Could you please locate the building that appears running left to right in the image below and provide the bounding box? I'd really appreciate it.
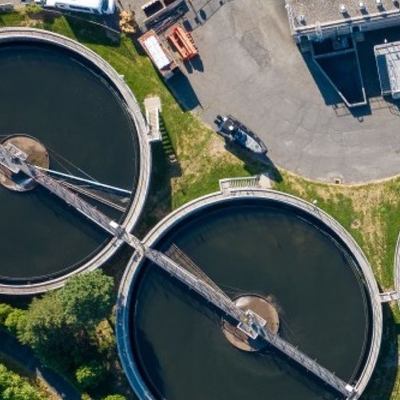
[286,0,400,51]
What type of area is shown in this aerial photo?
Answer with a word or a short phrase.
industrial area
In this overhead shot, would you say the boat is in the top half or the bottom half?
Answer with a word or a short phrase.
top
